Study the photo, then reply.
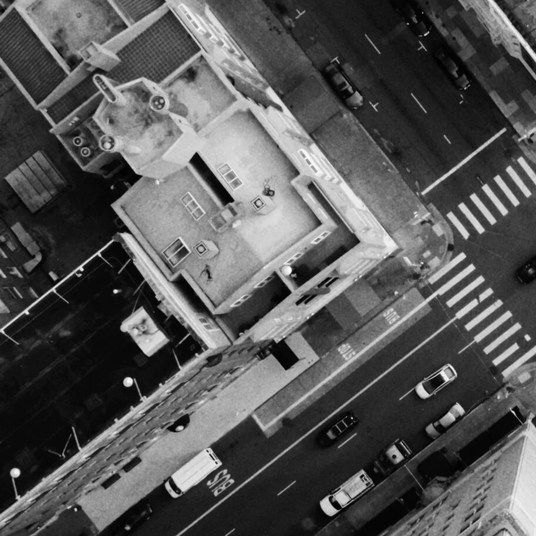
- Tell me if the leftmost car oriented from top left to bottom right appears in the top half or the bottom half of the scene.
top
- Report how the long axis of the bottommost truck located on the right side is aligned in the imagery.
on a diagonal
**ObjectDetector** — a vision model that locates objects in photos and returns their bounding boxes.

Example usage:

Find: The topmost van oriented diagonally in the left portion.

[167,449,222,497]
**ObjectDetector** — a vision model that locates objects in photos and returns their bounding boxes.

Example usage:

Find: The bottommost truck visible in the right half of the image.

[320,468,375,516]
